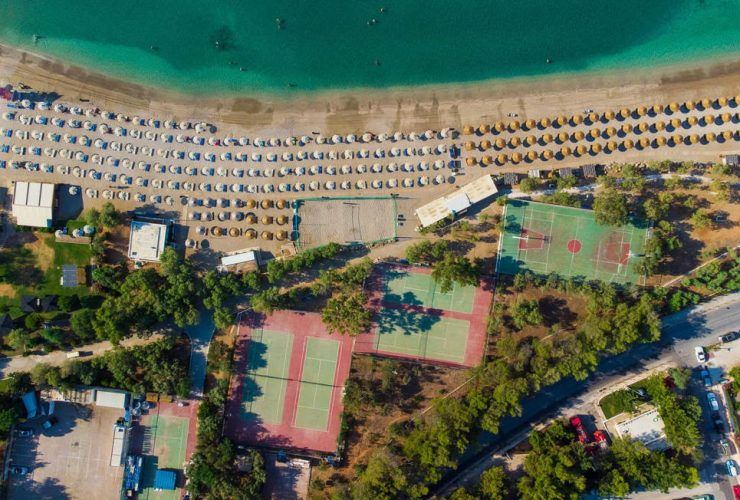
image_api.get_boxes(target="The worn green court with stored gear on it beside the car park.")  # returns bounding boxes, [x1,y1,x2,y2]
[140,412,193,500]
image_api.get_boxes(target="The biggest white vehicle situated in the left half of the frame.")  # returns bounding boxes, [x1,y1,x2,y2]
[110,416,126,467]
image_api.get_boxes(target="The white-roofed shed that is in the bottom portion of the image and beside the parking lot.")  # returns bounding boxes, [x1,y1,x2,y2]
[95,389,130,408]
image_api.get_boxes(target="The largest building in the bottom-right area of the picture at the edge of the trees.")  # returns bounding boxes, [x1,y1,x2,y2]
[611,406,666,447]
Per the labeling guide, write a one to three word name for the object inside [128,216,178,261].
building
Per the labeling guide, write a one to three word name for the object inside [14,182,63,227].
building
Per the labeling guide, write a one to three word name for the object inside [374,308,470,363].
tennis court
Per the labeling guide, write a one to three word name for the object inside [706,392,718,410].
vehicle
